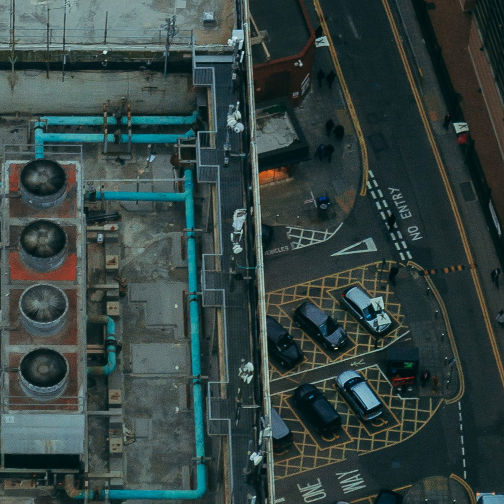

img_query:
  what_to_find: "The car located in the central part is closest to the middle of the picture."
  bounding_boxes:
[262,219,286,249]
